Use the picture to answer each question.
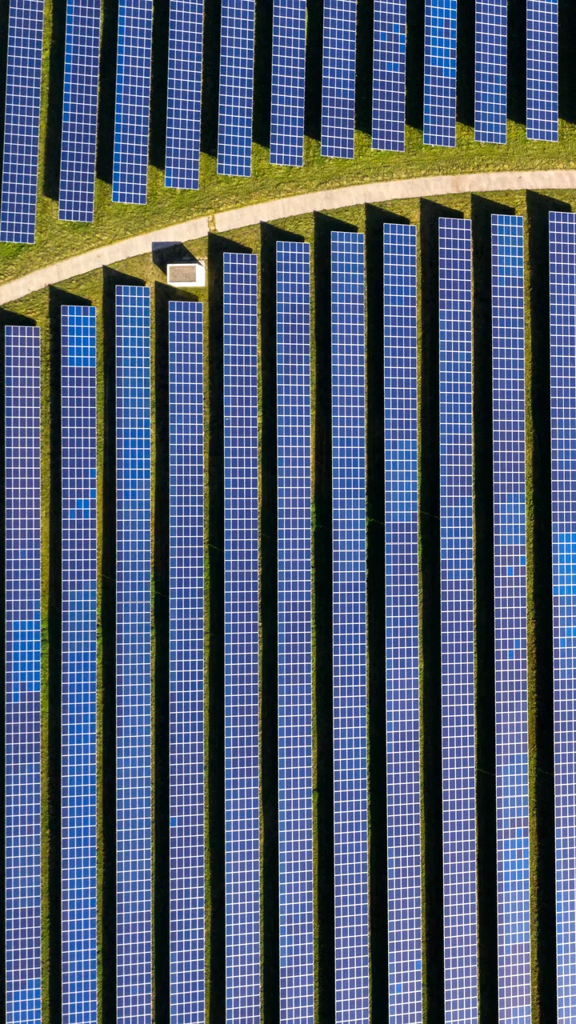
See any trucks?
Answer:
No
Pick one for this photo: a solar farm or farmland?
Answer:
solar farm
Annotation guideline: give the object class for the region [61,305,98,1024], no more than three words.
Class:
solar array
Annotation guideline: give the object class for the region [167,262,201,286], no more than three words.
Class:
shed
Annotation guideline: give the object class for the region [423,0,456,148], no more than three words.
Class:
solar array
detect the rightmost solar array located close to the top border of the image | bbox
[526,0,557,143]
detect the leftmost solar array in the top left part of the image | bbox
[0,0,45,245]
